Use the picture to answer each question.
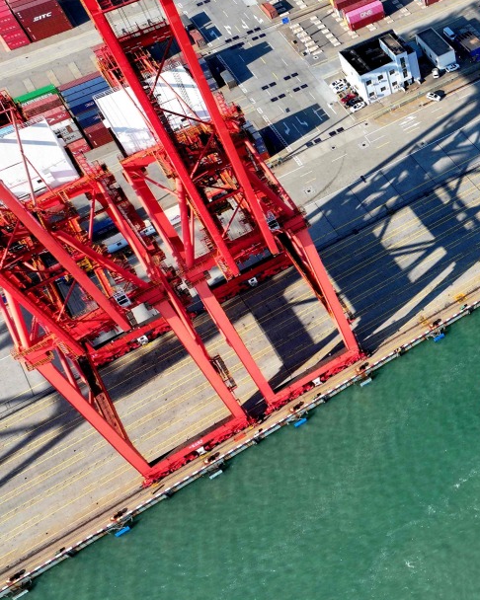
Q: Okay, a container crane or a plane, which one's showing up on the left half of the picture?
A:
container crane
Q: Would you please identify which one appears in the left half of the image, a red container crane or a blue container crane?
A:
red container crane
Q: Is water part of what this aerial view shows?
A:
Yes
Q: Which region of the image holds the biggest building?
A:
top right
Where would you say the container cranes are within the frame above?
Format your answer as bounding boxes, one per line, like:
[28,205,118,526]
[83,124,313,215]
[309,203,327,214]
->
[0,110,263,490]
[66,0,375,416]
